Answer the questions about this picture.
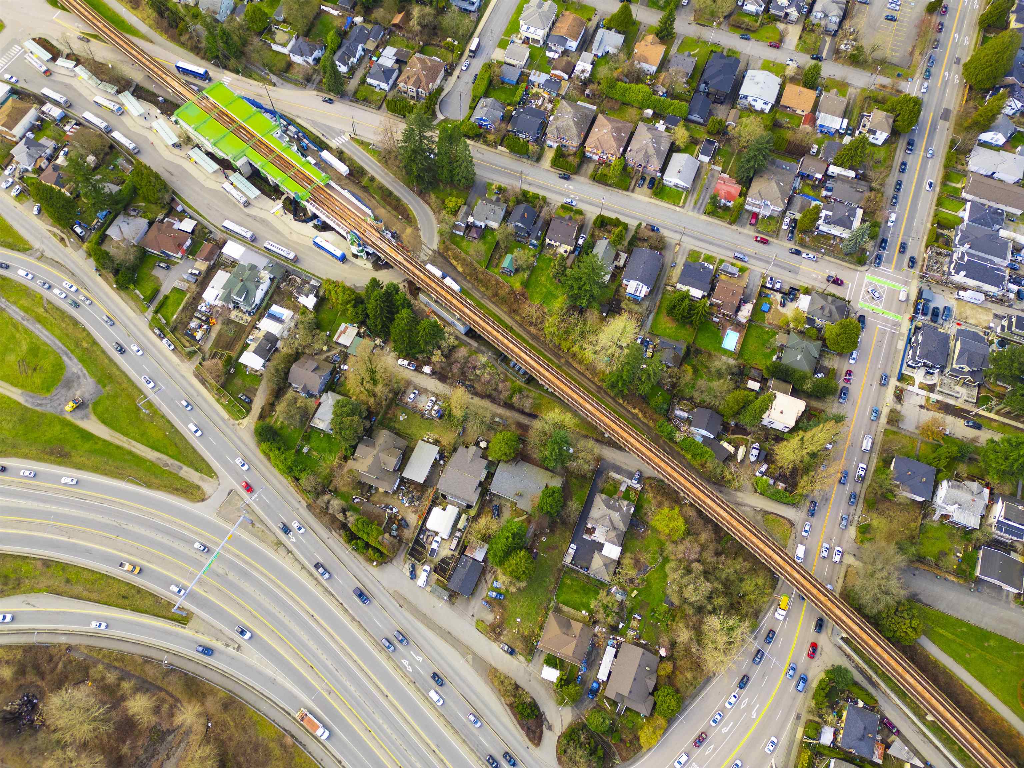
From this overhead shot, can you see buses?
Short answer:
Yes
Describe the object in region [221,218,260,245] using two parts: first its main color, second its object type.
white bus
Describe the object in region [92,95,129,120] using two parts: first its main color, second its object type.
white bus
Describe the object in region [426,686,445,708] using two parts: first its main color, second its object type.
white vehicle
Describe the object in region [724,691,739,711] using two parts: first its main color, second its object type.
white car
